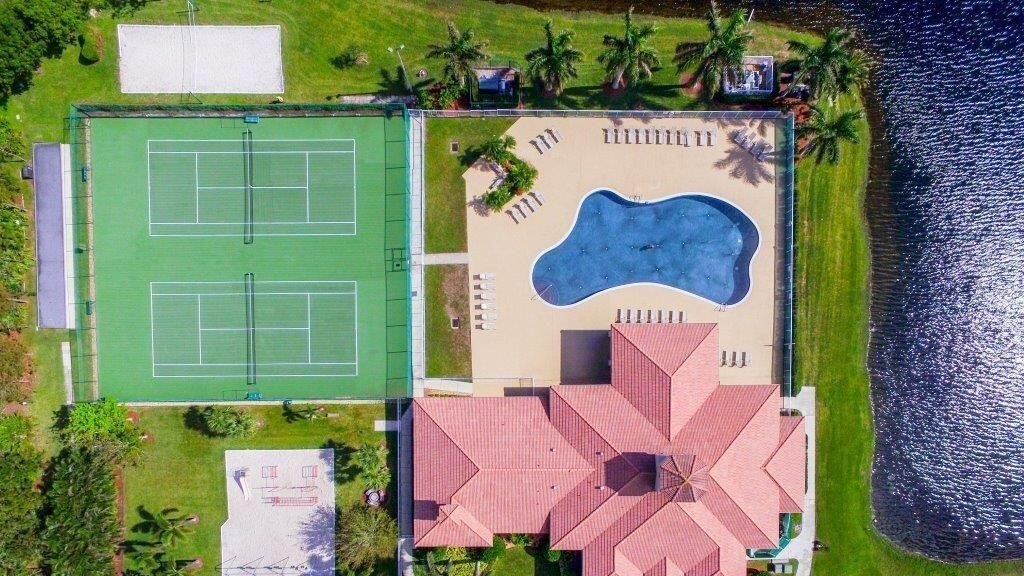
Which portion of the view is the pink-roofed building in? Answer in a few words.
bottom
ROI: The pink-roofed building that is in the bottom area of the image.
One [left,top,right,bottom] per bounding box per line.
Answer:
[413,322,806,576]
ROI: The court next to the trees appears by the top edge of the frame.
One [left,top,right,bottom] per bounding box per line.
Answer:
[117,0,284,108]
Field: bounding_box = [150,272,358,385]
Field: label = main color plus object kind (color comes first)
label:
green tennis court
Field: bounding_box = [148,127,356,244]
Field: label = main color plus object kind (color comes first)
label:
green tennis court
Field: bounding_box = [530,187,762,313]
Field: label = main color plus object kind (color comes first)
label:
blue swimming pool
